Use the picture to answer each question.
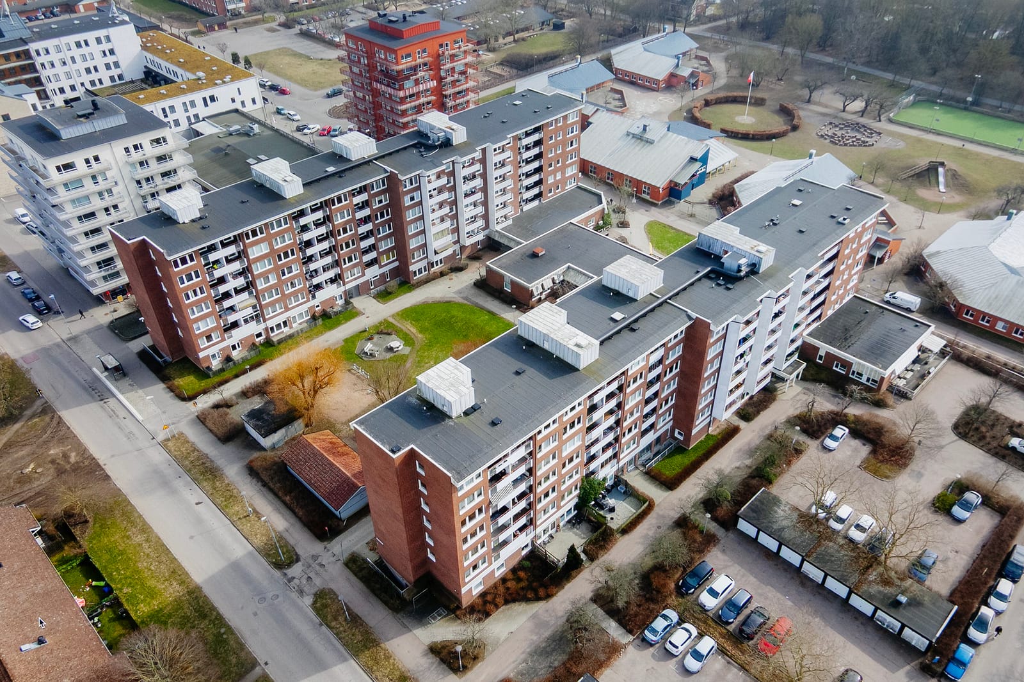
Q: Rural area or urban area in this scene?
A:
urban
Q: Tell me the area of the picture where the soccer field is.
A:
top right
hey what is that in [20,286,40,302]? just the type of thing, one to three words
car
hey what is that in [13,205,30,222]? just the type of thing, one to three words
vehicle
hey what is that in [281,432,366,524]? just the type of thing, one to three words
shed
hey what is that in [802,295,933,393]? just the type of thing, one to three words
building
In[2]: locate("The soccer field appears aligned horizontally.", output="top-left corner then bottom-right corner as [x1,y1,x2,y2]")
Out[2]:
[891,101,1024,150]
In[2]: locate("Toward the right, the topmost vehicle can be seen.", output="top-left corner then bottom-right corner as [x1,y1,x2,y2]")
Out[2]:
[888,291,921,310]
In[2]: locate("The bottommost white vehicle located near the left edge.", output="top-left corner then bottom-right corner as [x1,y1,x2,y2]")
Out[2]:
[18,314,43,329]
